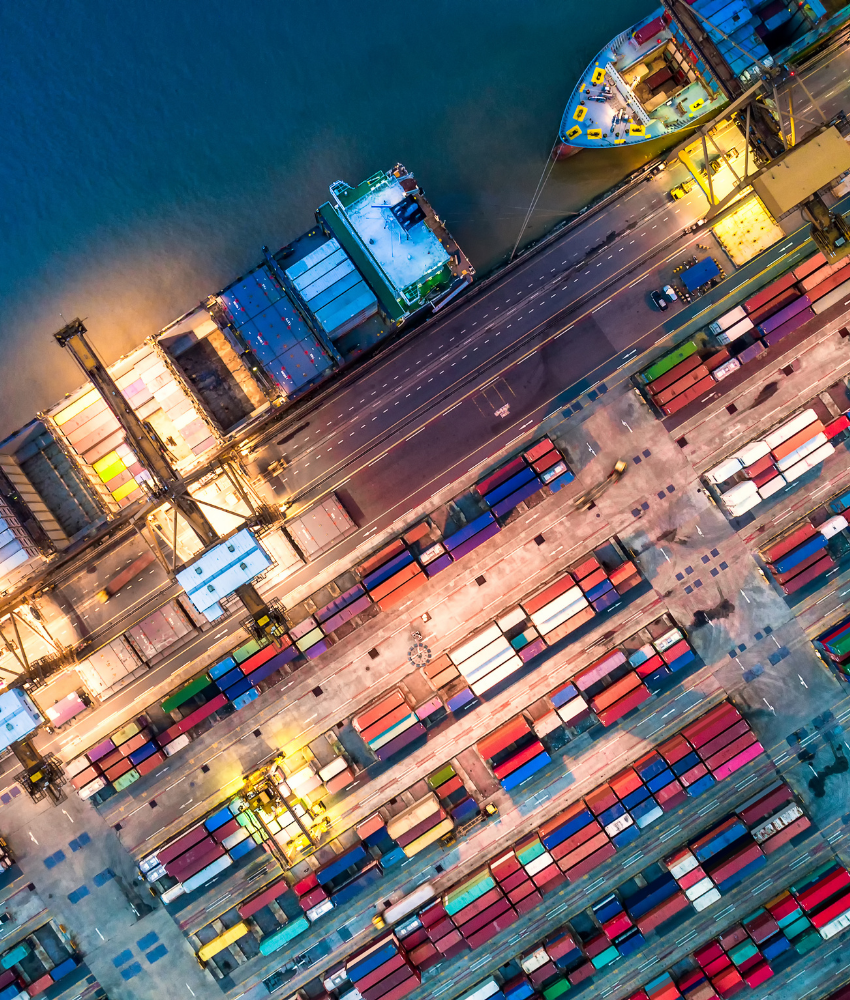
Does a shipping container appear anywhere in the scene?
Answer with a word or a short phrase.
Yes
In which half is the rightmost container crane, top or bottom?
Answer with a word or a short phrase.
top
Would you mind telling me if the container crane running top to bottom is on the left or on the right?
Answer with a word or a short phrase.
left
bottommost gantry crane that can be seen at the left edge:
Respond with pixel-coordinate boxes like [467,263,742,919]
[0,569,105,810]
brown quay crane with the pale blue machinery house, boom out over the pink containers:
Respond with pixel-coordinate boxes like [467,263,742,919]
[47,320,296,658]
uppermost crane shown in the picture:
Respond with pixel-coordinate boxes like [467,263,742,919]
[645,0,850,266]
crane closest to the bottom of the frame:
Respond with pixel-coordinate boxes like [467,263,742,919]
[242,753,329,870]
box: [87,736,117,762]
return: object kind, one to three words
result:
shipping container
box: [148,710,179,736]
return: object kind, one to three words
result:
shipping container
